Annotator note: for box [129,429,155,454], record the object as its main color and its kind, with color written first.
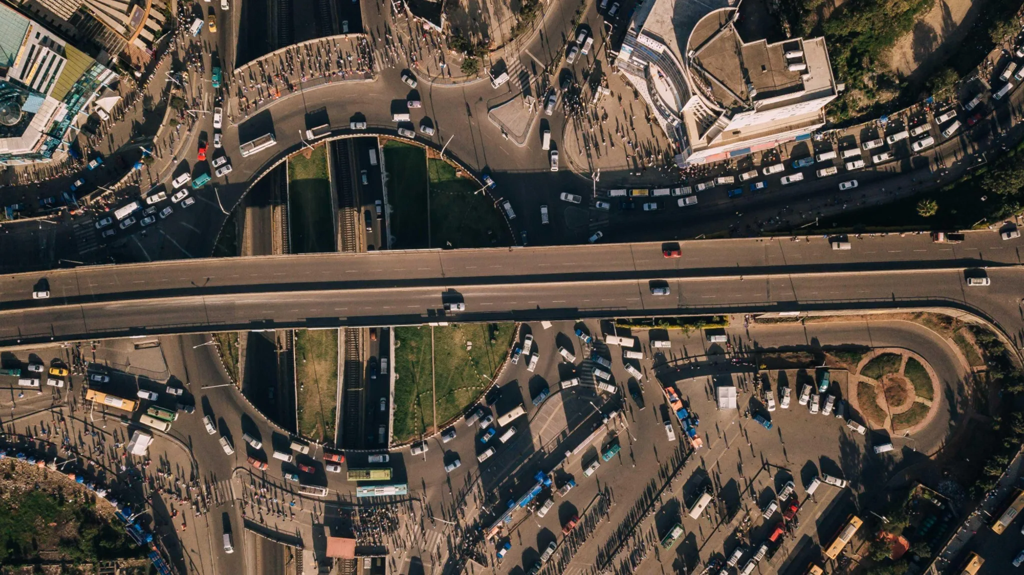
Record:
white tent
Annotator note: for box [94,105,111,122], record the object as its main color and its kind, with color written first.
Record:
white car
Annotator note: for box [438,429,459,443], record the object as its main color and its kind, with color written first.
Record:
gray car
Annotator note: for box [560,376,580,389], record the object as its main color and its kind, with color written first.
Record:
white vehicle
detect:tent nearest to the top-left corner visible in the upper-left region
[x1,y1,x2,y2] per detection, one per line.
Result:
[96,90,124,116]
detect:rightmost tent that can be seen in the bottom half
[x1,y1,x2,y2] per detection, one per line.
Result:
[714,385,736,408]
